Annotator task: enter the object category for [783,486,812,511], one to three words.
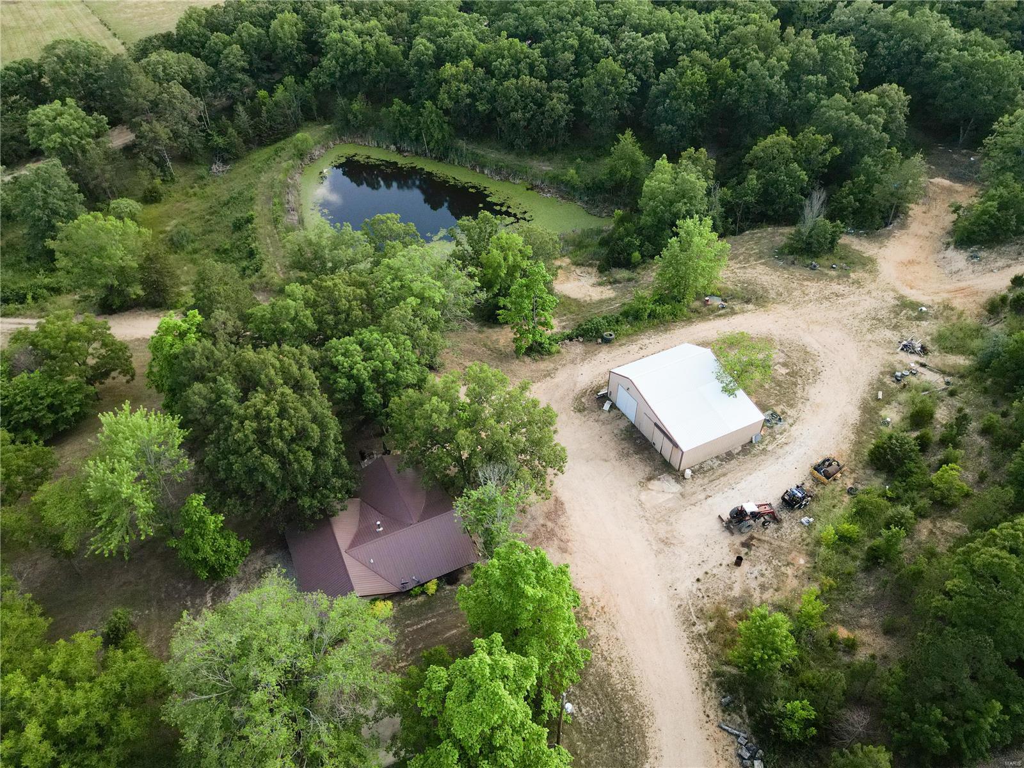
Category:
work vehicle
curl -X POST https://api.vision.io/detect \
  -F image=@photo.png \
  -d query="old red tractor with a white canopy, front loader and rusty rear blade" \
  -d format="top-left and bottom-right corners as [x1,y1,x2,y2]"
[719,506,776,537]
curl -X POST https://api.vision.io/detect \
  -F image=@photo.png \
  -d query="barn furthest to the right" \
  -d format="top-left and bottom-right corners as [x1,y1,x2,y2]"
[607,343,767,474]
